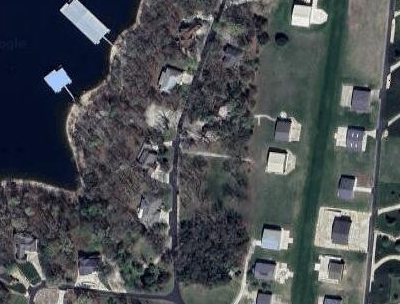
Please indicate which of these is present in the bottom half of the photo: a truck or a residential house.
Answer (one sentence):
What appears in the bottom half of the photo is a residential house.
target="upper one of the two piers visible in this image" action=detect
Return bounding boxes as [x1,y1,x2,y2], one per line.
[62,0,114,48]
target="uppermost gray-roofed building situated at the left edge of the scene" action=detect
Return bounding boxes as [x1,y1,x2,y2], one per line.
[15,235,37,260]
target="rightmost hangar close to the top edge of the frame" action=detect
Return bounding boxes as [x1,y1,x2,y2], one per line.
[292,5,311,27]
